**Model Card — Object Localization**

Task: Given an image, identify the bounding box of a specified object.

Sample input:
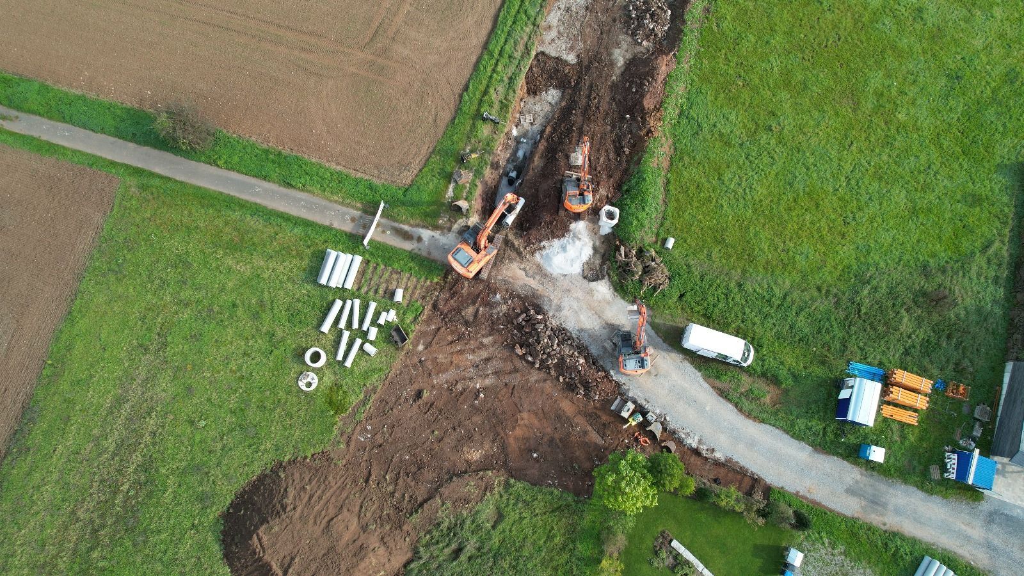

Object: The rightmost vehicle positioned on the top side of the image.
[559,139,592,216]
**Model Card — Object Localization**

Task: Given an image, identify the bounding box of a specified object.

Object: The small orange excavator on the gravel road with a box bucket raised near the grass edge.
[606,306,661,383]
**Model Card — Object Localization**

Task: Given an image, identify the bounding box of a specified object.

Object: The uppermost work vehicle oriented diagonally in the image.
[450,195,519,280]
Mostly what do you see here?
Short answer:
grass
